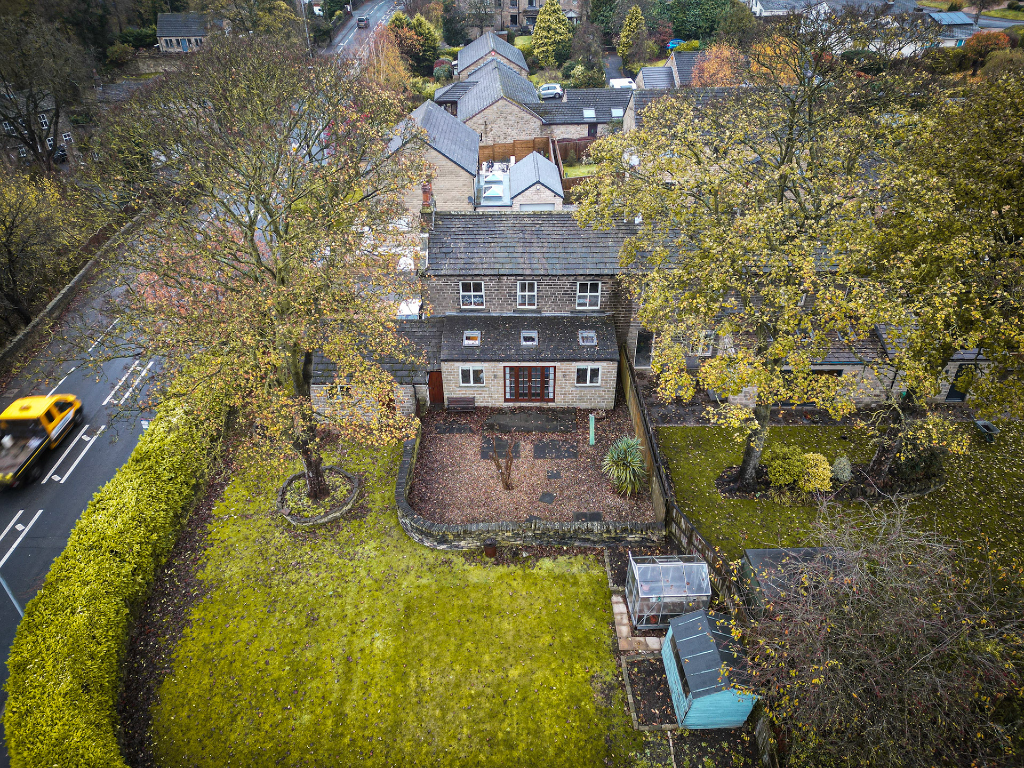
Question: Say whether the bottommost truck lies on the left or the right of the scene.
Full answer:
You can find the bottommost truck on the left side of the picture.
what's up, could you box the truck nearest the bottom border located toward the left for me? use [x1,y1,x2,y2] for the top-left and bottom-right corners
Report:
[0,395,88,496]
